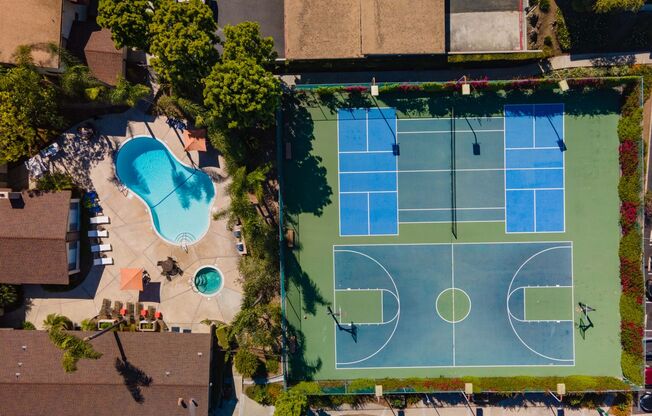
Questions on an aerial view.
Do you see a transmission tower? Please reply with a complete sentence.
No, this view has no transmission tower in it.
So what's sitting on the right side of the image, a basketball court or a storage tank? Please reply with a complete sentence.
It is a basketball court that can be seen on the right side of the image.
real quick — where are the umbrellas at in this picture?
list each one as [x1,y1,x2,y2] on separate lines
[185,129,207,151]
[121,269,143,290]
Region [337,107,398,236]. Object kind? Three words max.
sports court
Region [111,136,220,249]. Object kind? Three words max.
swimming pool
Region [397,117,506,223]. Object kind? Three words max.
tennis court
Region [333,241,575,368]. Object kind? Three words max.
basketball court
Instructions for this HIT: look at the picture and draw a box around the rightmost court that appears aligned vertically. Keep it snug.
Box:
[504,103,565,233]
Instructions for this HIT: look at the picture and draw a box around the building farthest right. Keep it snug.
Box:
[285,0,445,65]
